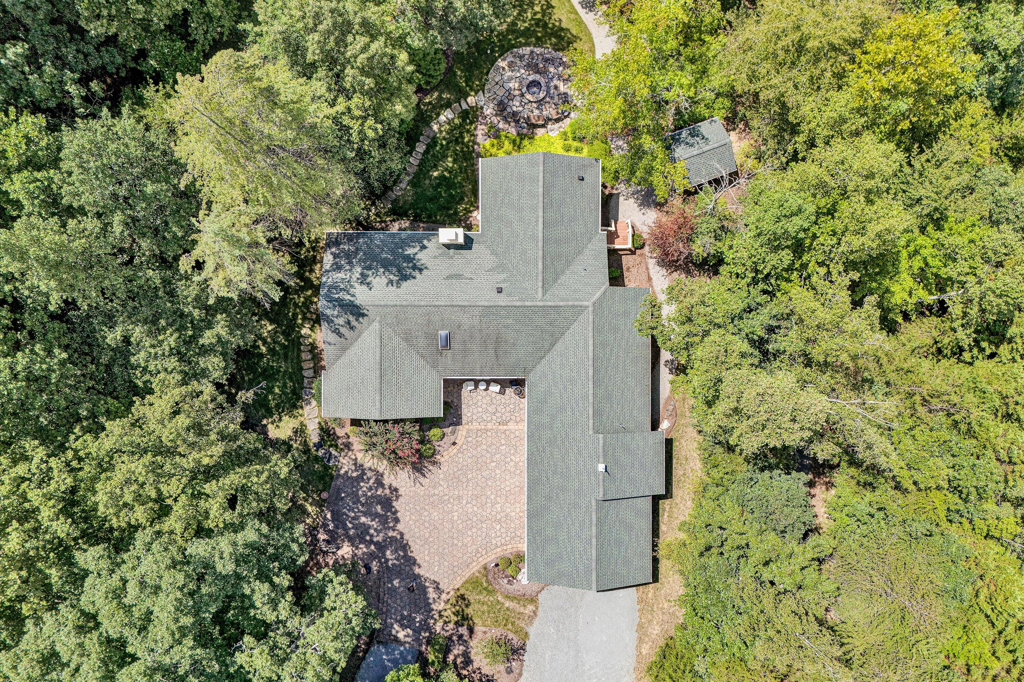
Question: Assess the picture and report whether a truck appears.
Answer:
No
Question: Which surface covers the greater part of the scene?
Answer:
trees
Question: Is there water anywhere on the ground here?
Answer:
No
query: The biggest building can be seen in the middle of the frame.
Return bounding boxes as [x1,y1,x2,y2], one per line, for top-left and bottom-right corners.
[319,152,666,592]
